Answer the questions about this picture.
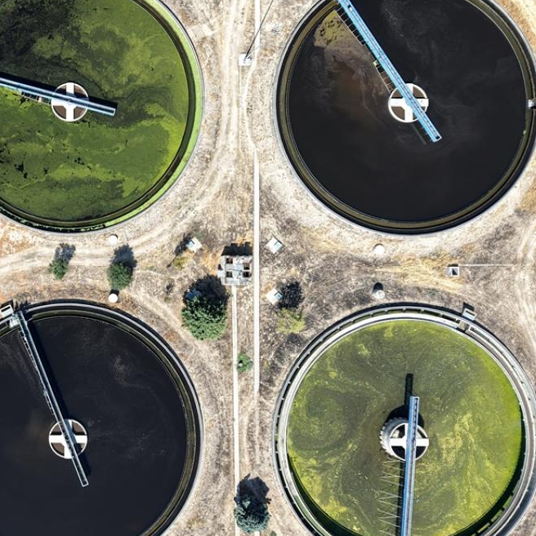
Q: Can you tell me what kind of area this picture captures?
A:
industrial area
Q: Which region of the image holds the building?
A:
center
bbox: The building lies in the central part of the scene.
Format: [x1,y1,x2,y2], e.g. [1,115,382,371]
[212,254,251,284]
